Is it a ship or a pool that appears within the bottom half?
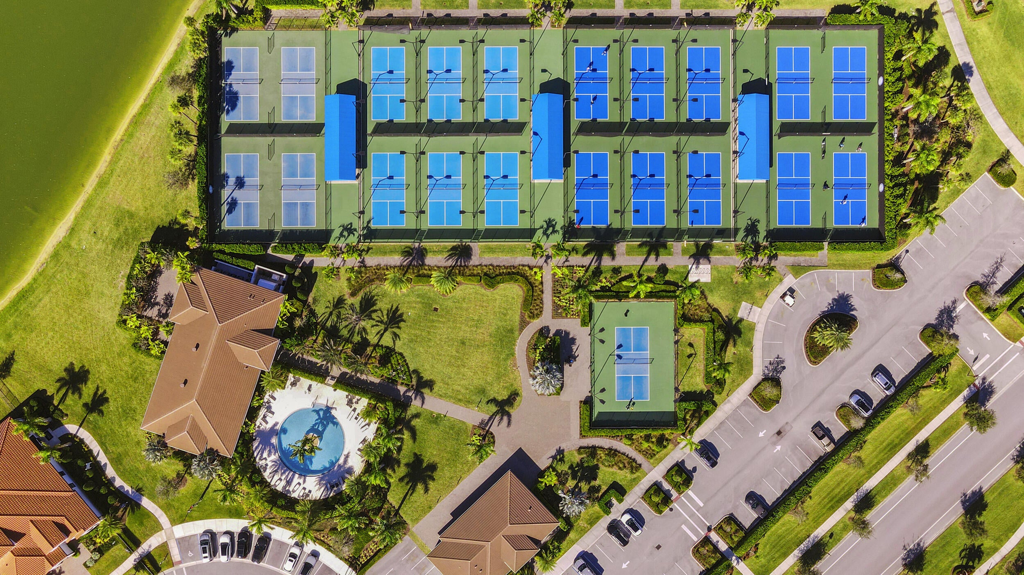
pool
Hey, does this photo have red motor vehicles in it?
No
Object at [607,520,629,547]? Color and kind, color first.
black car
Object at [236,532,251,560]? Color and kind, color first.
black car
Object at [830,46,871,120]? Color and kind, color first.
blue sports court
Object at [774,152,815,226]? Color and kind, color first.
blue sports court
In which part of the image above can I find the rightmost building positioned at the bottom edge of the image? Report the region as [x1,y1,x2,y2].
[426,470,560,575]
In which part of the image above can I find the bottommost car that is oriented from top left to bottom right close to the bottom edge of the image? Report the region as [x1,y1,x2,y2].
[575,555,597,575]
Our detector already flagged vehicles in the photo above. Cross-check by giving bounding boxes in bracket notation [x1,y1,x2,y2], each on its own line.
[808,423,835,451]
[871,368,894,394]
[849,393,873,418]
[695,442,718,468]
[199,534,214,562]
[607,520,629,547]
[218,535,232,563]
[236,532,251,560]
[621,512,642,537]
[780,288,796,305]
[253,537,270,564]
[284,546,301,572]
[575,555,597,575]
[301,553,320,575]
[745,492,765,516]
